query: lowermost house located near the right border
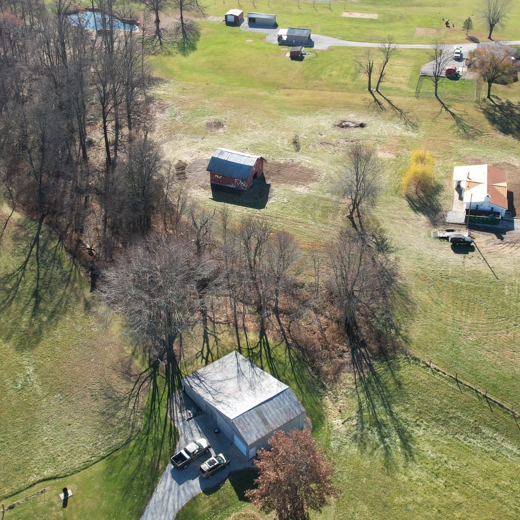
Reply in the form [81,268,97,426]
[453,164,508,222]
